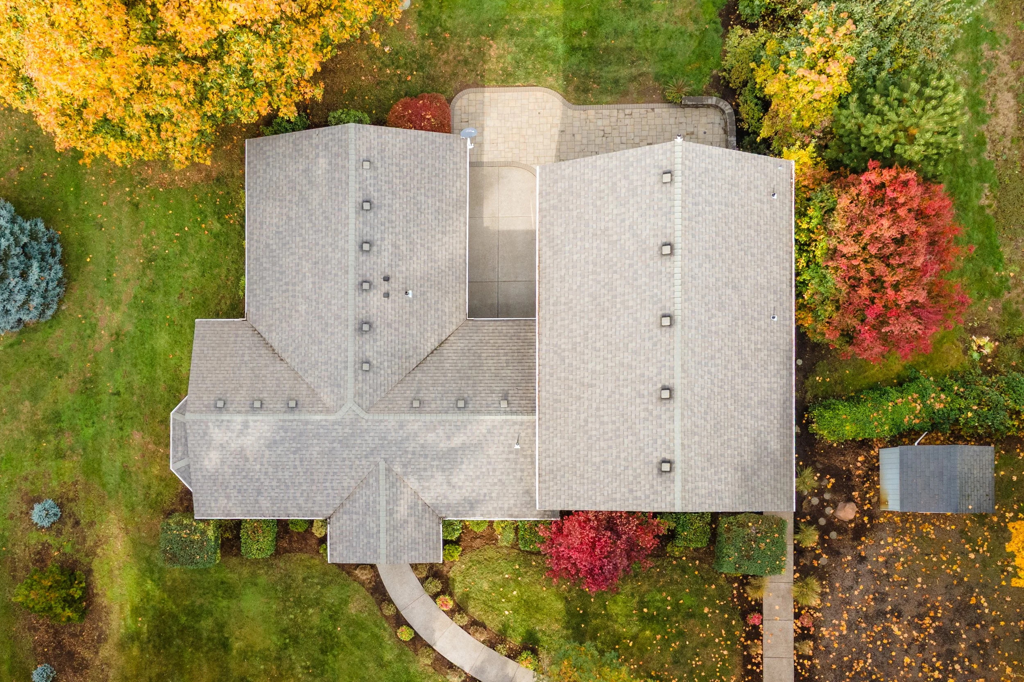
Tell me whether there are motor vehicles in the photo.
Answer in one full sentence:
No, I find no motor vehicle anywhere in the image.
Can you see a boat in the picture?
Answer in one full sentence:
No, there is no boat in the image.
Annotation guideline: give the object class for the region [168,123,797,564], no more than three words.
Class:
house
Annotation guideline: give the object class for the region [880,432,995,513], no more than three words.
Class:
shed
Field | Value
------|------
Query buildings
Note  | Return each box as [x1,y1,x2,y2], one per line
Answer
[168,123,797,564]
[880,432,995,513]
